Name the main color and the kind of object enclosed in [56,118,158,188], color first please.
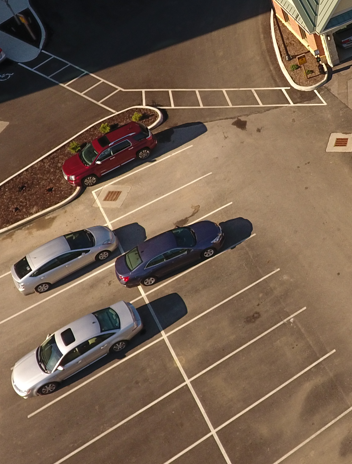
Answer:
red car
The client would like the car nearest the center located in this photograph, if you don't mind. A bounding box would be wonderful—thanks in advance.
[113,218,225,289]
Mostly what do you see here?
paved ground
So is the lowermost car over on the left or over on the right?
left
